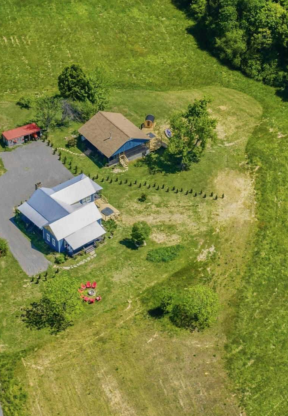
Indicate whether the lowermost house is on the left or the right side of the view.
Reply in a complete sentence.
The lowermost house appears in the left half of the scene.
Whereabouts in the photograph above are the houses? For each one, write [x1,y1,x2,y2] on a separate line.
[78,112,152,166]
[19,173,126,256]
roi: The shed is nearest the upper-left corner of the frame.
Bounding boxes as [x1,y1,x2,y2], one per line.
[2,122,41,147]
